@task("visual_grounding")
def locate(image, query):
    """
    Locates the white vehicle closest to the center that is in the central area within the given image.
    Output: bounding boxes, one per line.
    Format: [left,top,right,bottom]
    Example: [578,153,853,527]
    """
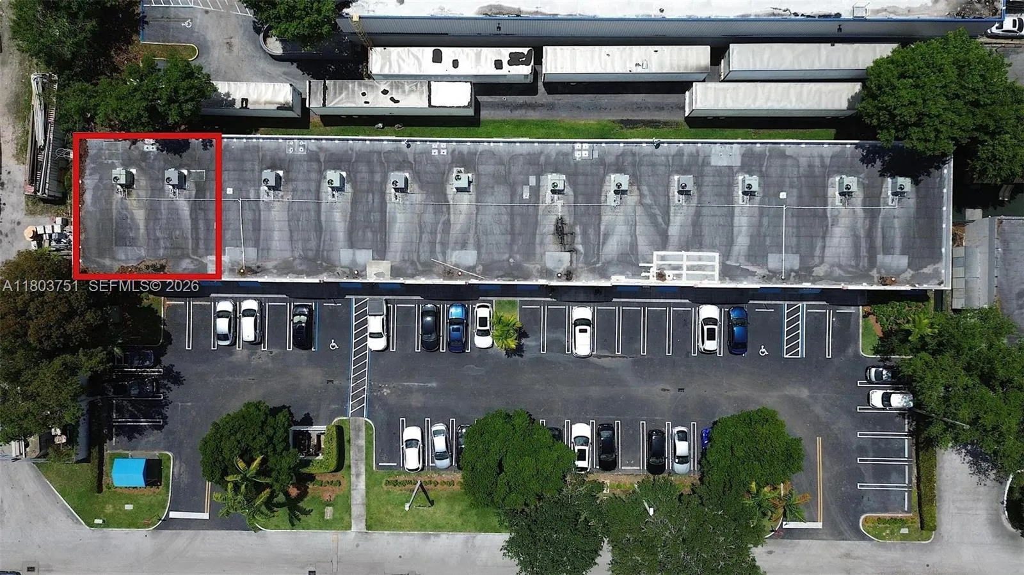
[472,303,493,349]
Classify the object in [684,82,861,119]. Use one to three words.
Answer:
trailer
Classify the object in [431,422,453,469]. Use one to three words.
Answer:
car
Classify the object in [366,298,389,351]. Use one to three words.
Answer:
truck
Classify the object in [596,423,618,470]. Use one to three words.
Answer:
car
